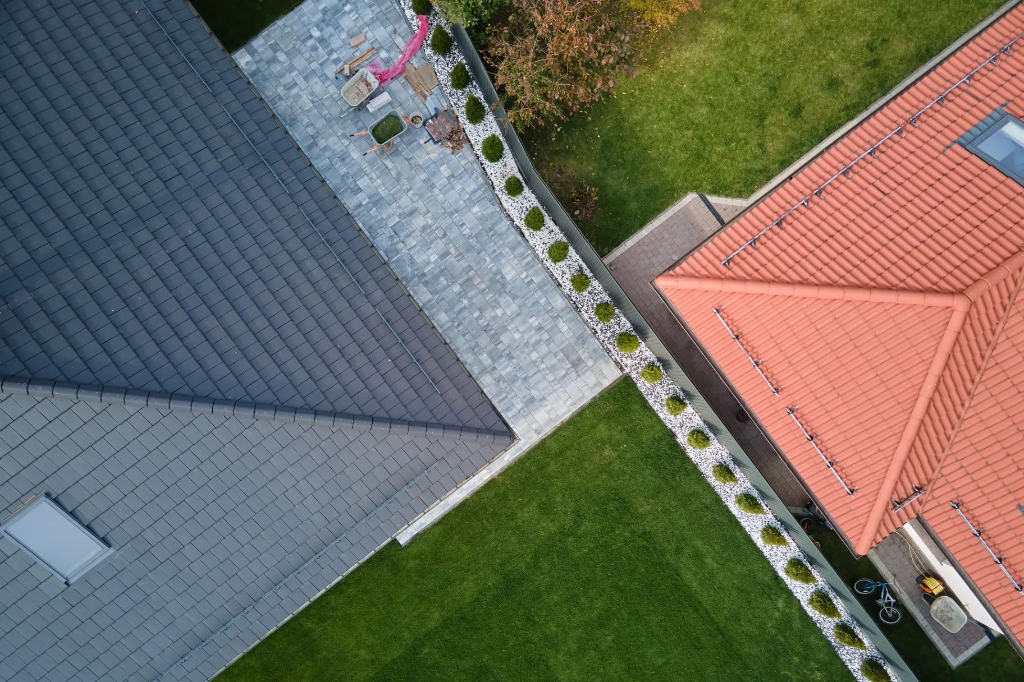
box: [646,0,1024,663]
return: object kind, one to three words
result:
house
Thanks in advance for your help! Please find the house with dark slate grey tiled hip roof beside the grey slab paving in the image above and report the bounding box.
[0,0,521,682]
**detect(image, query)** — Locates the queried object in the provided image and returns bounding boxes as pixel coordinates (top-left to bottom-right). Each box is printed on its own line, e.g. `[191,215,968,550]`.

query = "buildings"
[0,0,521,682]
[646,0,1024,663]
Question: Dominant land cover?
buildings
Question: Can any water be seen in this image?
No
